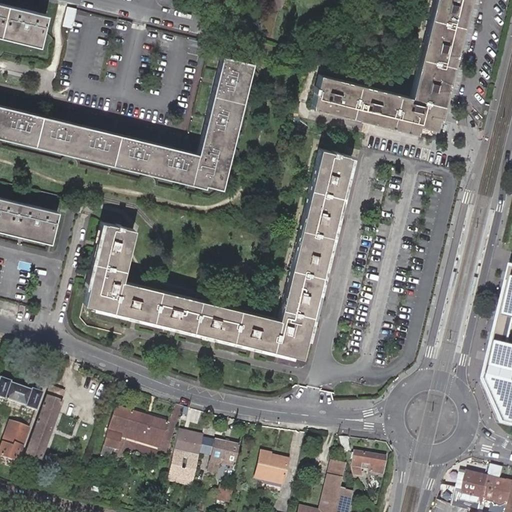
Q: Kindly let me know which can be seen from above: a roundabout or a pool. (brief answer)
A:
roundabout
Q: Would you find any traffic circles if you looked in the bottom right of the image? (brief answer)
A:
Yes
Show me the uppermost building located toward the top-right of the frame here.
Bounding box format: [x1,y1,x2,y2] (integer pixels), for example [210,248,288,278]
[305,0,472,138]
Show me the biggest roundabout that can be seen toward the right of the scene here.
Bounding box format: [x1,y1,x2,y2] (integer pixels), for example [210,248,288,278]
[385,371,478,464]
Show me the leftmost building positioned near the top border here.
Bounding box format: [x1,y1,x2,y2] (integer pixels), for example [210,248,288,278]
[0,6,50,51]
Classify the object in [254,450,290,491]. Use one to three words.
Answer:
house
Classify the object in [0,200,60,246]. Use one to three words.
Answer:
building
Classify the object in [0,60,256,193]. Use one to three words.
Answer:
building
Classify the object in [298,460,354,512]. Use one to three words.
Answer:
house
